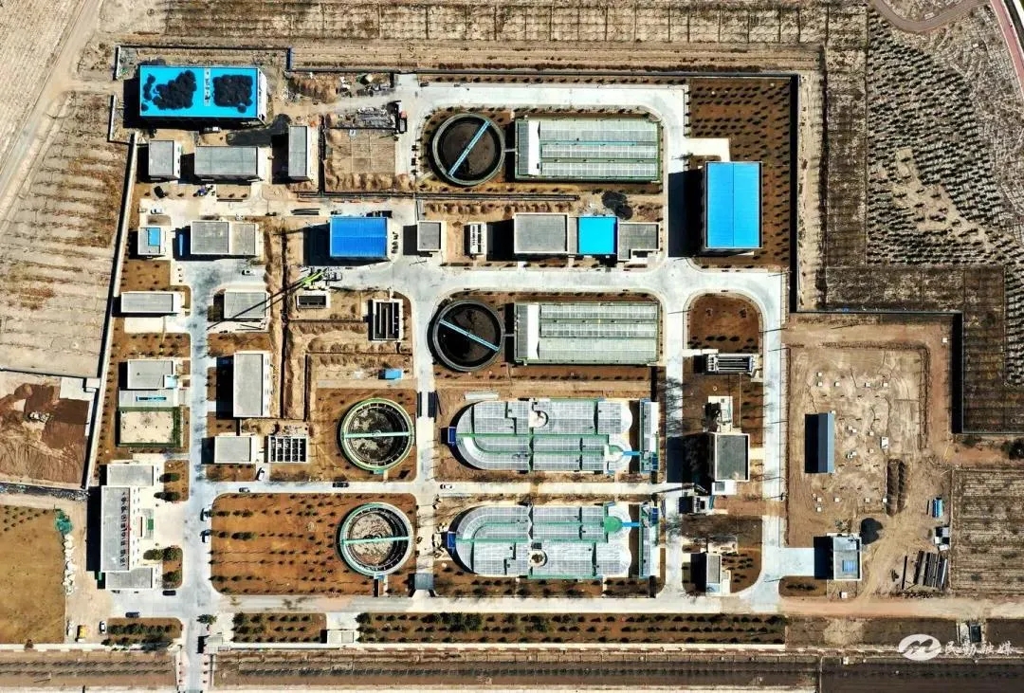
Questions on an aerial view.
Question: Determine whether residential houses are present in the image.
Yes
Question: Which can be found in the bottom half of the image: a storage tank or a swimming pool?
storage tank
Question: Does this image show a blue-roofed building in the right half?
Yes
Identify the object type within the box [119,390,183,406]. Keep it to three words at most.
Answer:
house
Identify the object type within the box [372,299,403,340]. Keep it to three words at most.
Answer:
storage tank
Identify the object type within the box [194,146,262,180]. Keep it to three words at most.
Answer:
building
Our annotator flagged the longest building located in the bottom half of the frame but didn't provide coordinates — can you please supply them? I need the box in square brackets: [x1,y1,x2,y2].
[101,463,161,589]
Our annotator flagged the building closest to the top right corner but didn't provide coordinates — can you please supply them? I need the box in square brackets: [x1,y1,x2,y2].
[700,161,762,251]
